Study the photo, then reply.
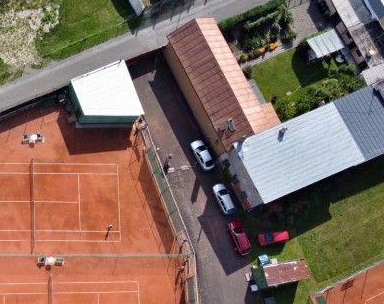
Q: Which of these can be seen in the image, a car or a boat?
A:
car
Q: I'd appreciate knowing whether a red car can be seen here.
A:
Yes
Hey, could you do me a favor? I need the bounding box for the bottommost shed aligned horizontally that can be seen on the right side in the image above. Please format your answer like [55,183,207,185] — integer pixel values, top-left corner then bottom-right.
[245,258,311,290]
